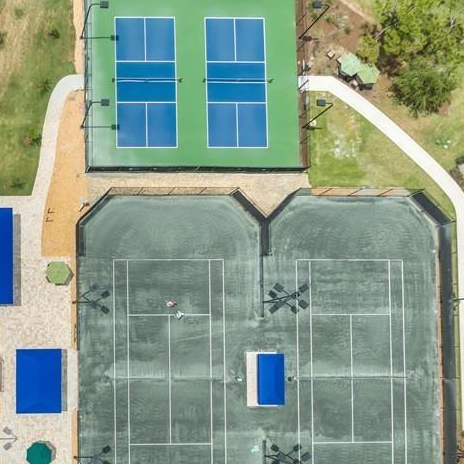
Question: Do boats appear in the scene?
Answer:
No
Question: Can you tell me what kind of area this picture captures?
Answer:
sports ground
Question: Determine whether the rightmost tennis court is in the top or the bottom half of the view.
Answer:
bottom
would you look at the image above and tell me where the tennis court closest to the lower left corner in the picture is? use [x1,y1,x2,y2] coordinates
[78,195,263,464]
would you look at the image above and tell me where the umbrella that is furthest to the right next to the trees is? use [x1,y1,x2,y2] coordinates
[354,62,380,86]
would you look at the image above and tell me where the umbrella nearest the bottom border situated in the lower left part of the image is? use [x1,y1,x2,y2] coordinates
[27,441,52,464]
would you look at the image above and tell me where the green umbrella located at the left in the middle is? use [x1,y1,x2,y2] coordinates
[45,260,71,285]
